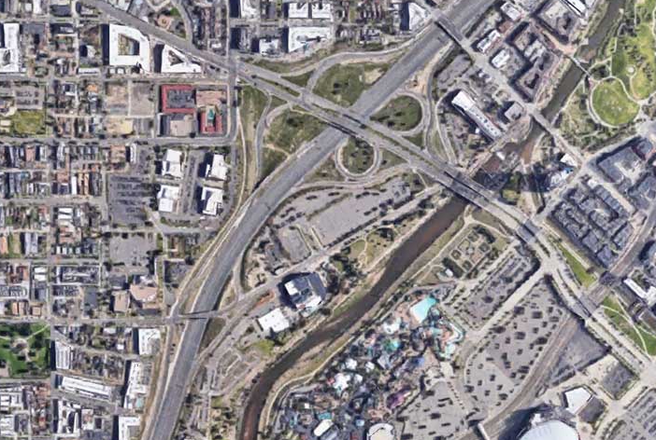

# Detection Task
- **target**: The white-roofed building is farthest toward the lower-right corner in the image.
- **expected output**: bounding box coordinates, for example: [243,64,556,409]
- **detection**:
[565,387,589,413]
